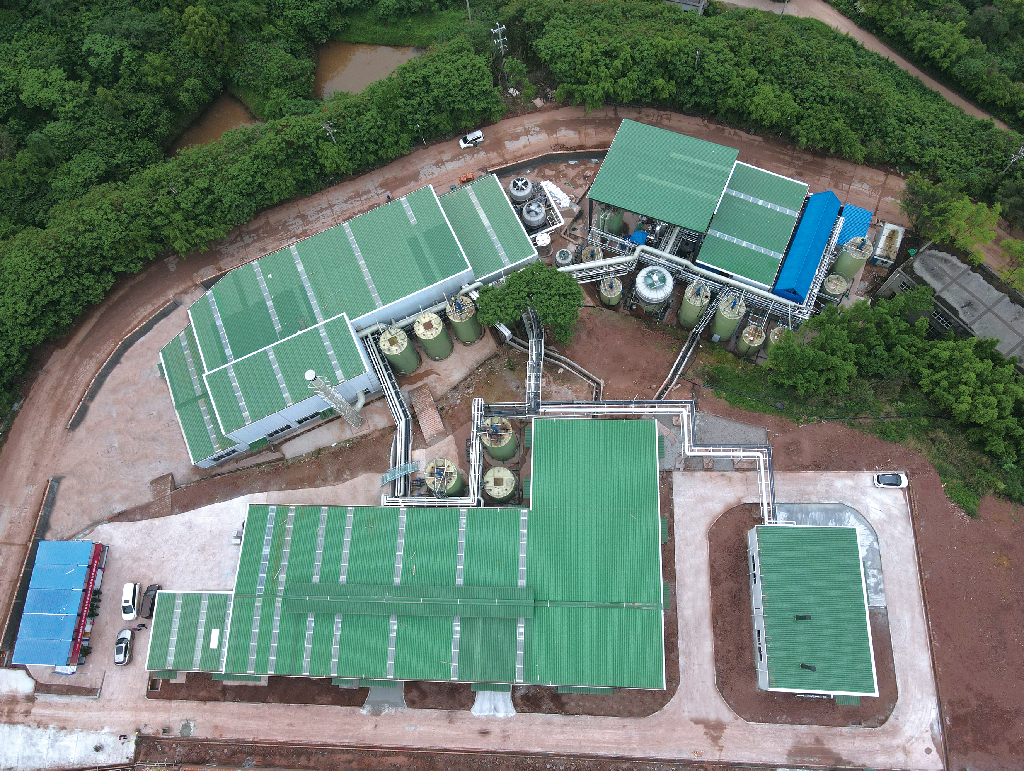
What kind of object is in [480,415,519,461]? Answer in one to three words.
storage tank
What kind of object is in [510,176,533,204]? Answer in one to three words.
cooling tower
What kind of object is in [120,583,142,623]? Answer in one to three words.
car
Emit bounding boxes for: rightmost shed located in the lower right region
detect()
[749,524,881,711]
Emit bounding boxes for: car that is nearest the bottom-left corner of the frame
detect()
[114,629,137,668]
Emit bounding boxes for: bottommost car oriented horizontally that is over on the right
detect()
[872,473,907,490]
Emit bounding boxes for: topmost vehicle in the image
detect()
[457,128,486,152]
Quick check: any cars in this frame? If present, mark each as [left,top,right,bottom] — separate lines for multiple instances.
[114,629,137,668]
[120,583,142,623]
[457,128,486,152]
[138,584,162,622]
[872,473,907,490]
